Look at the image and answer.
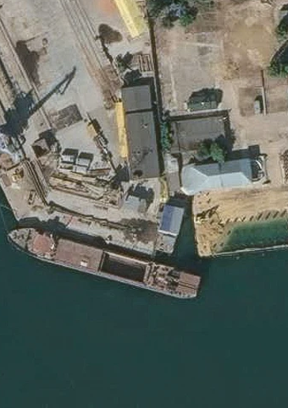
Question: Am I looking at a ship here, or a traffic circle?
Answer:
ship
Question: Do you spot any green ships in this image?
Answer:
No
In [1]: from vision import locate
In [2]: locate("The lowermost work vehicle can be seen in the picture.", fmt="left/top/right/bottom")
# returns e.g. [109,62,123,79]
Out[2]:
[193,207,217,221]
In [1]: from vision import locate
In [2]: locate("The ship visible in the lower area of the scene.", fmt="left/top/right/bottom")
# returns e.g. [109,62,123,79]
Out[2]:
[7,228,201,298]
